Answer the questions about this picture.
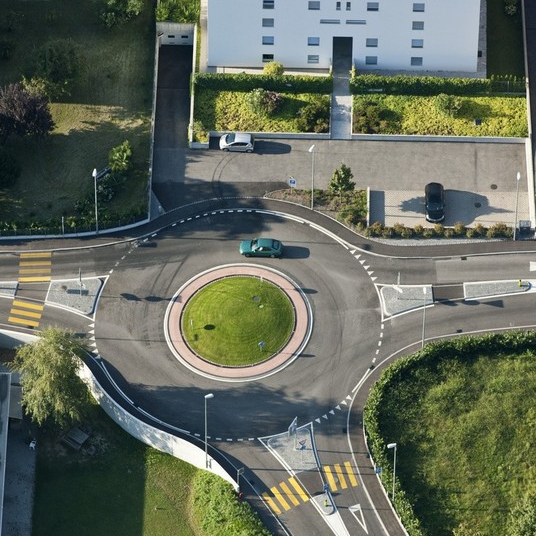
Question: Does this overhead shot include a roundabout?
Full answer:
Yes, this view includes a roundabout.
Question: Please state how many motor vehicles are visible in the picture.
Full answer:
There are 3 motor vehicles in the image.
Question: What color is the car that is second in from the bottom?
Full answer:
From above, the car that is second in from the bottom appears black.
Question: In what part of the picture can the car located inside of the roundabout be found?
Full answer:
You can find the car located inside of the roundabout in the center area of the picture.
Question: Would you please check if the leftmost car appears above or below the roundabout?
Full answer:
Relative to the roundabout, the leftmost car lies above it.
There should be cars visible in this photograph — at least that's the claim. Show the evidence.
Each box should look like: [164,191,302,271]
[220,132,254,153]
[240,237,283,257]
[424,182,446,222]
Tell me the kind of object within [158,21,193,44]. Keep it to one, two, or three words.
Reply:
building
